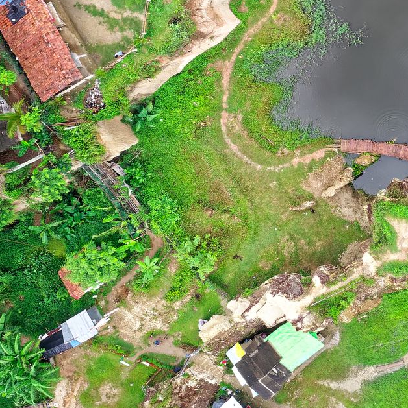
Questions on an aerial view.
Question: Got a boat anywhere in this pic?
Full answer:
No, there is no boat in the image.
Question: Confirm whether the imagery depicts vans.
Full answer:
No, there's no van here.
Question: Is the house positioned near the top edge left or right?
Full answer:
The house positioned near the top edge appears in the left half of the scene.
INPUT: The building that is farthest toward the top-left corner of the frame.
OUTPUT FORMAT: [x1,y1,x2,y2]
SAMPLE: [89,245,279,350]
[0,0,85,101]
